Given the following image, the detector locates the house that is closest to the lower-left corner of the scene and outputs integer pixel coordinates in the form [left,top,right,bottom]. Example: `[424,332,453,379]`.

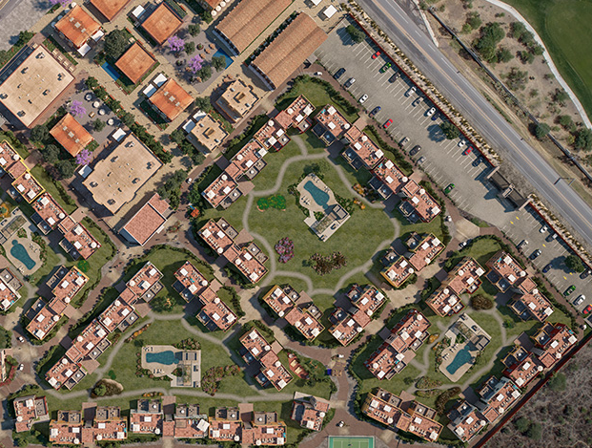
[13,392,49,431]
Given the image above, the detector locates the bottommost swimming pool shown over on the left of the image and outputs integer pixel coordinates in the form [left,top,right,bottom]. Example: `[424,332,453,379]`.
[140,340,201,389]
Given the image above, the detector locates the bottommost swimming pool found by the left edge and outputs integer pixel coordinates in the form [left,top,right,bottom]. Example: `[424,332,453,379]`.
[0,208,45,277]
